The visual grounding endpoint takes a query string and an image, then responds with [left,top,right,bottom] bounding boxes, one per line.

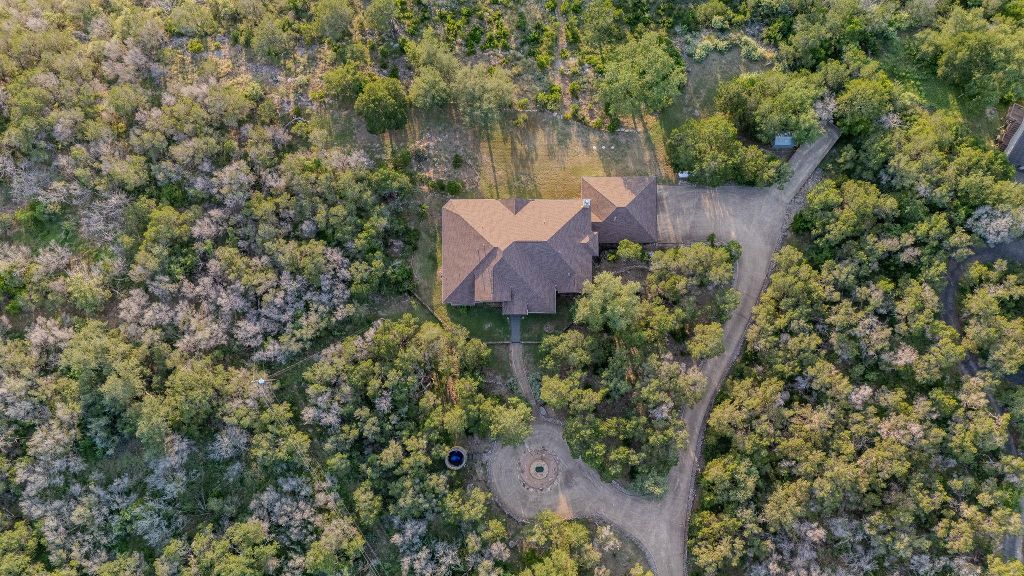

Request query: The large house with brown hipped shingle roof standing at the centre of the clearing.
[442,198,598,315]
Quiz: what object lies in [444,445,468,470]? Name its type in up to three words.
water tank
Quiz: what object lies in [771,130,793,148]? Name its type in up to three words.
shed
